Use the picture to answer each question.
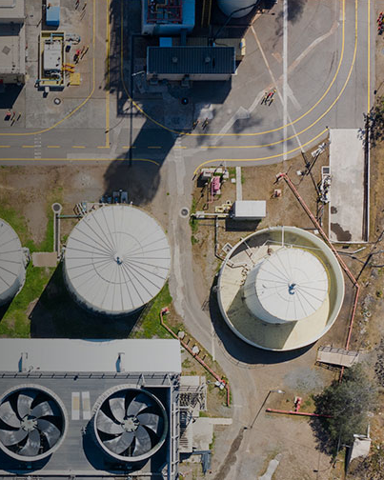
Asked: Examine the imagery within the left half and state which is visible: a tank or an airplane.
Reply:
tank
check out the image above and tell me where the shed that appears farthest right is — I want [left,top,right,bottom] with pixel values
[233,200,266,219]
